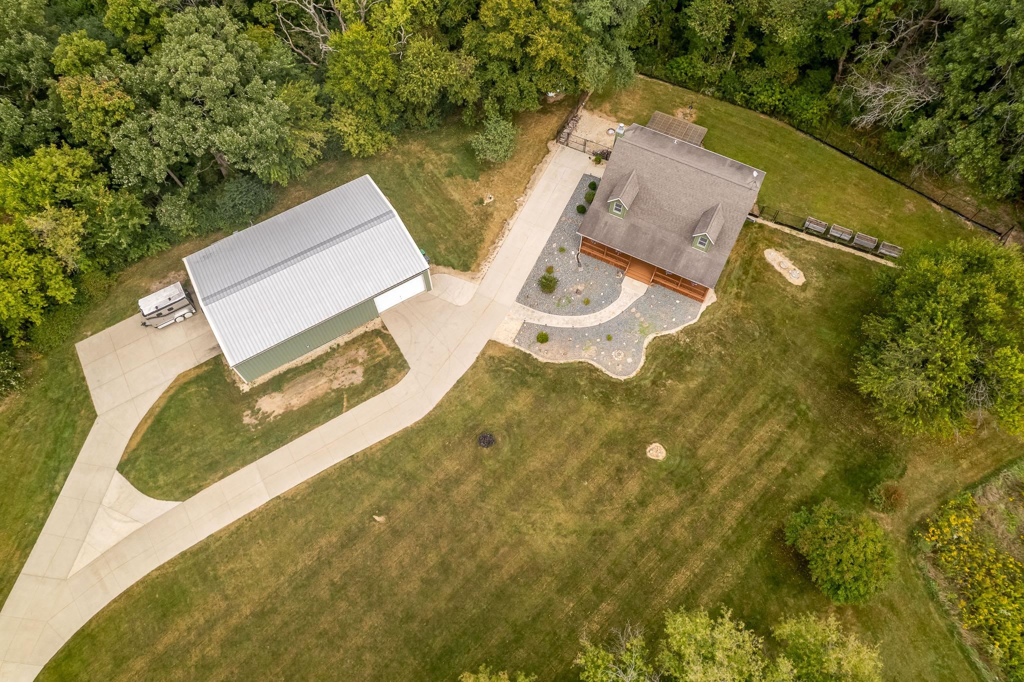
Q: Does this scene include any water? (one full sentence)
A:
No, there's no water in this view.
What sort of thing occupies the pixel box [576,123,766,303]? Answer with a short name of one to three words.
house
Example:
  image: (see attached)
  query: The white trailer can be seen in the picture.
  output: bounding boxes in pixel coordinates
[139,282,196,325]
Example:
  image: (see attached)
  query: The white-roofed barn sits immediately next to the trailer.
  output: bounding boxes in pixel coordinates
[181,174,433,384]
